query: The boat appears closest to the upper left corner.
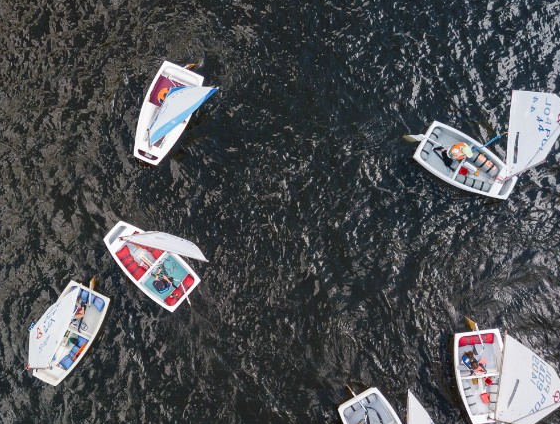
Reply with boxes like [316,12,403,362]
[133,61,222,166]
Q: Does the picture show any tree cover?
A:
No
